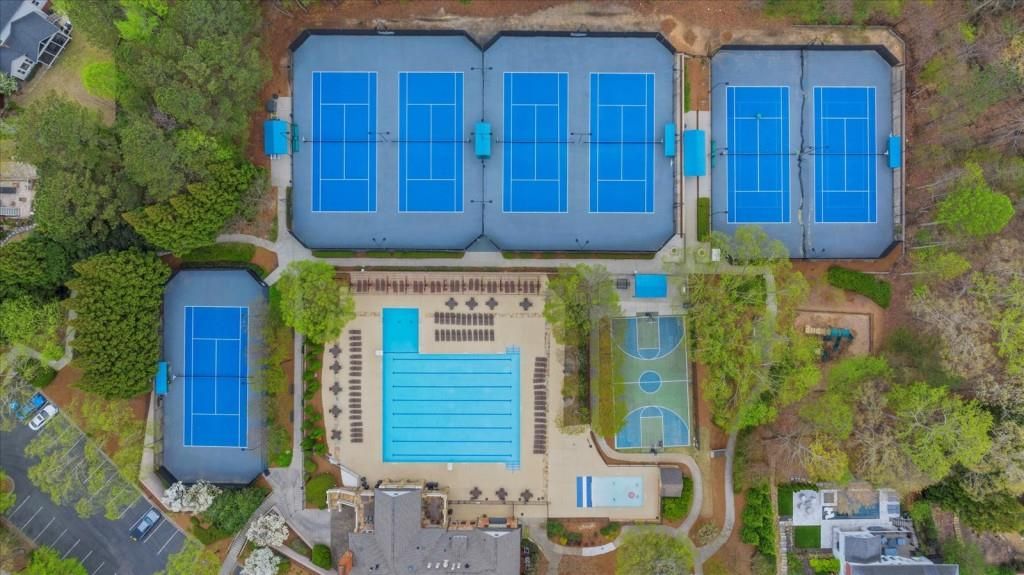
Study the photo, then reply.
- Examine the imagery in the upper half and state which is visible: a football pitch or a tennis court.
tennis court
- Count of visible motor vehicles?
3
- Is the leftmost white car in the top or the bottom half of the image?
bottom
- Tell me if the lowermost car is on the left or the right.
left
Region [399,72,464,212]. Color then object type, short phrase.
blue tennis court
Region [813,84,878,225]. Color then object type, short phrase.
blue tennis court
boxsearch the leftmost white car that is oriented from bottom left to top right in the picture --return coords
[28,403,59,430]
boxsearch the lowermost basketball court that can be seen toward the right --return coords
[609,315,691,452]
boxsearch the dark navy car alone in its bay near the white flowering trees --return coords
[132,511,162,540]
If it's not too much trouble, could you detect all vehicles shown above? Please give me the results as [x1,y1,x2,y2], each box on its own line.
[132,511,162,540]
[13,389,47,419]
[28,403,59,430]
